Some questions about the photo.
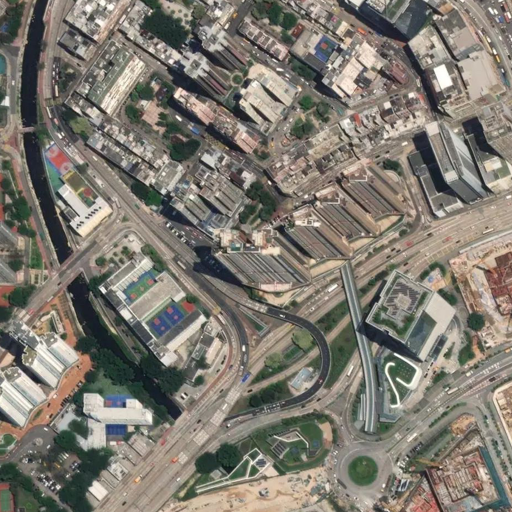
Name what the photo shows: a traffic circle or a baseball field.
traffic circle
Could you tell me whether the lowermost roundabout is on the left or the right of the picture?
right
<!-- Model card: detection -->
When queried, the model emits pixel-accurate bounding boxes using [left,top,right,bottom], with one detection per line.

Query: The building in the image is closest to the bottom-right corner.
[434,447,498,512]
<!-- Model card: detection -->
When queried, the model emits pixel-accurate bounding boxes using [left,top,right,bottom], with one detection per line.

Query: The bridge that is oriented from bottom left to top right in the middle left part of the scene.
[34,250,89,308]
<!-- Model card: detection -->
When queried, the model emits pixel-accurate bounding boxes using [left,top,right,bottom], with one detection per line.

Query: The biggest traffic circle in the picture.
[336,442,390,498]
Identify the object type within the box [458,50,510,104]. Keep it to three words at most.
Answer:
building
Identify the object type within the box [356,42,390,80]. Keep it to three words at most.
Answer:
building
